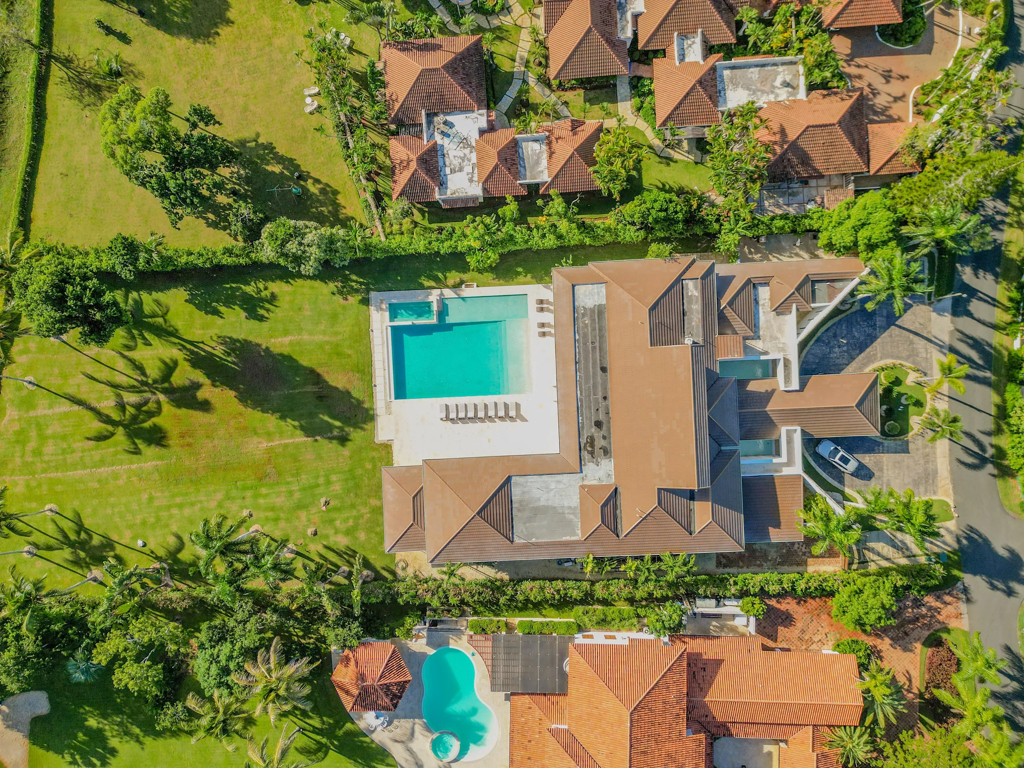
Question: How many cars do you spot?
one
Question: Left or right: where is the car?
right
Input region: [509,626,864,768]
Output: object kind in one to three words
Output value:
house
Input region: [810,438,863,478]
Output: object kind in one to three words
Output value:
car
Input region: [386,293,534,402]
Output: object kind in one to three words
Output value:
swimming pool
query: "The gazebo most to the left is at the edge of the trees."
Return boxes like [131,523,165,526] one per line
[330,638,414,713]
